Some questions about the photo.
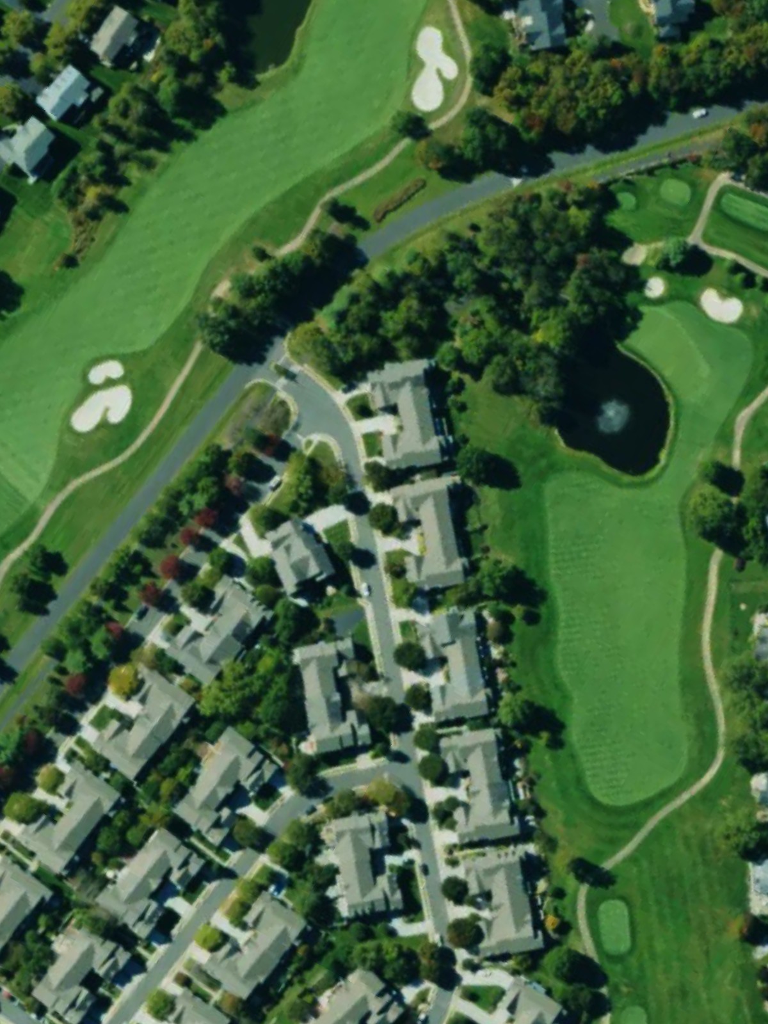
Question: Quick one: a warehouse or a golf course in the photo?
golf course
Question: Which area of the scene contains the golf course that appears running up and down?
right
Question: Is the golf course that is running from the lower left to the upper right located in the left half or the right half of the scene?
left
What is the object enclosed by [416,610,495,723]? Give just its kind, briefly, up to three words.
house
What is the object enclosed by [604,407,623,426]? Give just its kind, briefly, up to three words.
fountain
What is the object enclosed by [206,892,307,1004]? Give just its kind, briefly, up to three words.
house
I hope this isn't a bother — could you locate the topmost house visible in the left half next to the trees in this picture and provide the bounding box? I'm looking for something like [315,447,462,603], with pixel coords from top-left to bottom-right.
[91,5,160,63]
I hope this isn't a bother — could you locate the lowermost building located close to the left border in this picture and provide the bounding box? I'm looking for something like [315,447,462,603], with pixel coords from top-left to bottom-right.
[26,920,135,1024]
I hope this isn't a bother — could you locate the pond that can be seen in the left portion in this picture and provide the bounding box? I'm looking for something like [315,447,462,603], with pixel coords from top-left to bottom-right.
[226,0,312,77]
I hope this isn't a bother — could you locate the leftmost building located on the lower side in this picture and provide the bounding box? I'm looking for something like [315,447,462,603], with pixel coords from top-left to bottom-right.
[0,857,52,955]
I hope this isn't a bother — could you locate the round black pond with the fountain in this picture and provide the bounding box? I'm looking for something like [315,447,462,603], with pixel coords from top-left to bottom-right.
[545,345,670,475]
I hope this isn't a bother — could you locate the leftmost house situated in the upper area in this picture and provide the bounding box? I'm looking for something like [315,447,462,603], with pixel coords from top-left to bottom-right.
[0,112,57,170]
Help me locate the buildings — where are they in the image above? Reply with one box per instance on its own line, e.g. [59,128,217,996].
[750,860,768,916]
[0,112,57,170]
[167,577,275,689]
[99,829,207,944]
[173,733,281,850]
[416,610,495,723]
[463,851,543,960]
[92,670,198,782]
[168,992,228,1024]
[314,973,407,1024]
[0,857,52,955]
[325,811,405,921]
[206,892,307,1004]
[37,62,110,119]
[292,636,374,754]
[749,611,768,666]
[91,5,160,63]
[391,478,470,591]
[440,730,521,842]
[369,358,450,471]
[265,516,333,600]
[26,920,135,1024]
[509,0,567,44]
[499,978,563,1024]
[18,764,126,876]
